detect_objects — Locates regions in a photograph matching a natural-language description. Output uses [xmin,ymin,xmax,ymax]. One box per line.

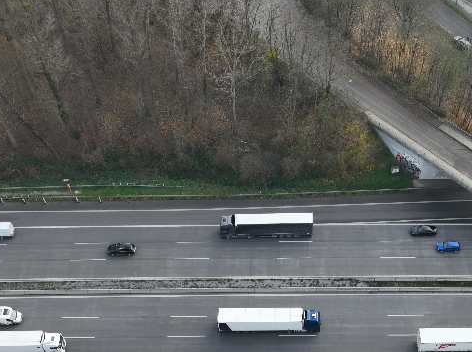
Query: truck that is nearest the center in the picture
[219,212,313,238]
